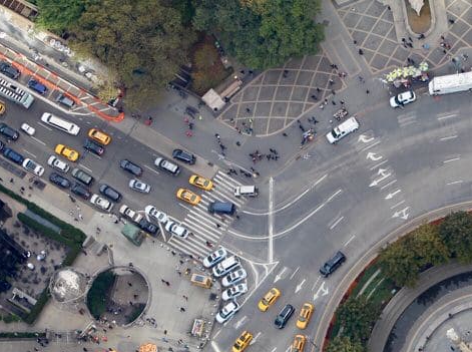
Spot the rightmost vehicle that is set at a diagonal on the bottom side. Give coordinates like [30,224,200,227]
[318,249,346,273]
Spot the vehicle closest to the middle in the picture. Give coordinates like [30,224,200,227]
[233,182,259,195]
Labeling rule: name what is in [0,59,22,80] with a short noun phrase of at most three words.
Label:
car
